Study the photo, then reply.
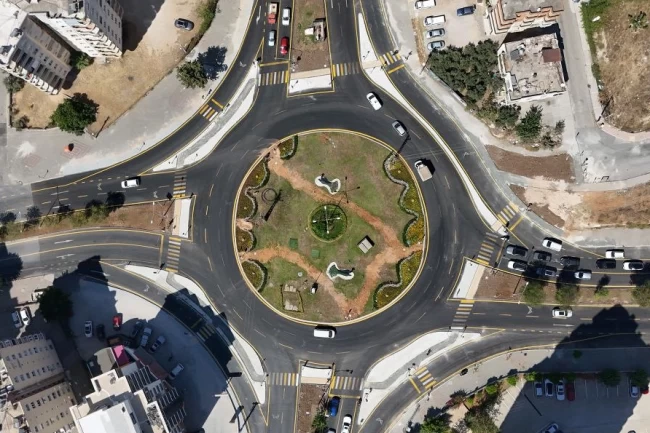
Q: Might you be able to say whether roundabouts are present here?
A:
Yes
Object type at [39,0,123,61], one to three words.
building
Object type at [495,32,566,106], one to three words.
building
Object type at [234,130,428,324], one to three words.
roundabout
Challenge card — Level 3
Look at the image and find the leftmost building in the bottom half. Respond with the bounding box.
[0,336,76,433]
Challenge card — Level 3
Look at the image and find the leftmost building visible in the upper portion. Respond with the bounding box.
[0,6,71,97]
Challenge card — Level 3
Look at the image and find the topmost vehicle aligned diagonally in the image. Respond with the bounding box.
[367,93,381,110]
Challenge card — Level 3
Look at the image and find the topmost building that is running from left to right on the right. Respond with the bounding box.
[486,0,567,37]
